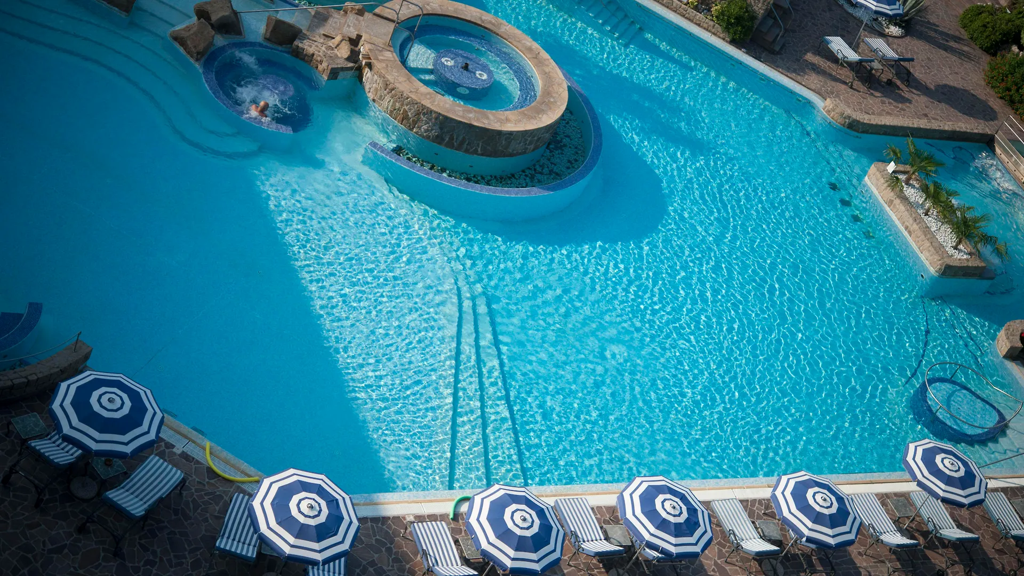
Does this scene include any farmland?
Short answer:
No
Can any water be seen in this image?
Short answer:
Yes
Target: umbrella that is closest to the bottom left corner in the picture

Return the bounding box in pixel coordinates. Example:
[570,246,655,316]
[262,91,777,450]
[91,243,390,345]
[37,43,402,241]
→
[46,371,166,498]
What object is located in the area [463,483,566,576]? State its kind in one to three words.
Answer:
umbrella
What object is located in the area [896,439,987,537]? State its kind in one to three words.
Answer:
umbrella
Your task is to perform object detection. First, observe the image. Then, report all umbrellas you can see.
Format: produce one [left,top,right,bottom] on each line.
[766,471,862,576]
[46,371,166,498]
[616,476,714,576]
[896,439,987,537]
[247,468,361,576]
[463,483,566,576]
[843,0,904,49]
